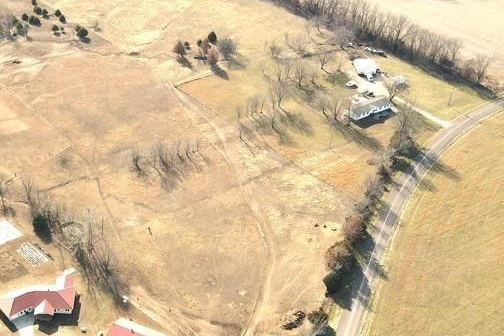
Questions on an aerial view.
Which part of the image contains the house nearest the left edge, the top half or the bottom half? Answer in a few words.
bottom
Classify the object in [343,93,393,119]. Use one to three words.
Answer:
house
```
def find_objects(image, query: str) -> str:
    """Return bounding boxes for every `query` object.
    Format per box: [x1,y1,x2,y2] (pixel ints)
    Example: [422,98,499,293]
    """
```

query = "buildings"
[389,74,412,86]
[0,272,75,325]
[108,318,168,336]
[343,93,393,119]
[349,58,380,78]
